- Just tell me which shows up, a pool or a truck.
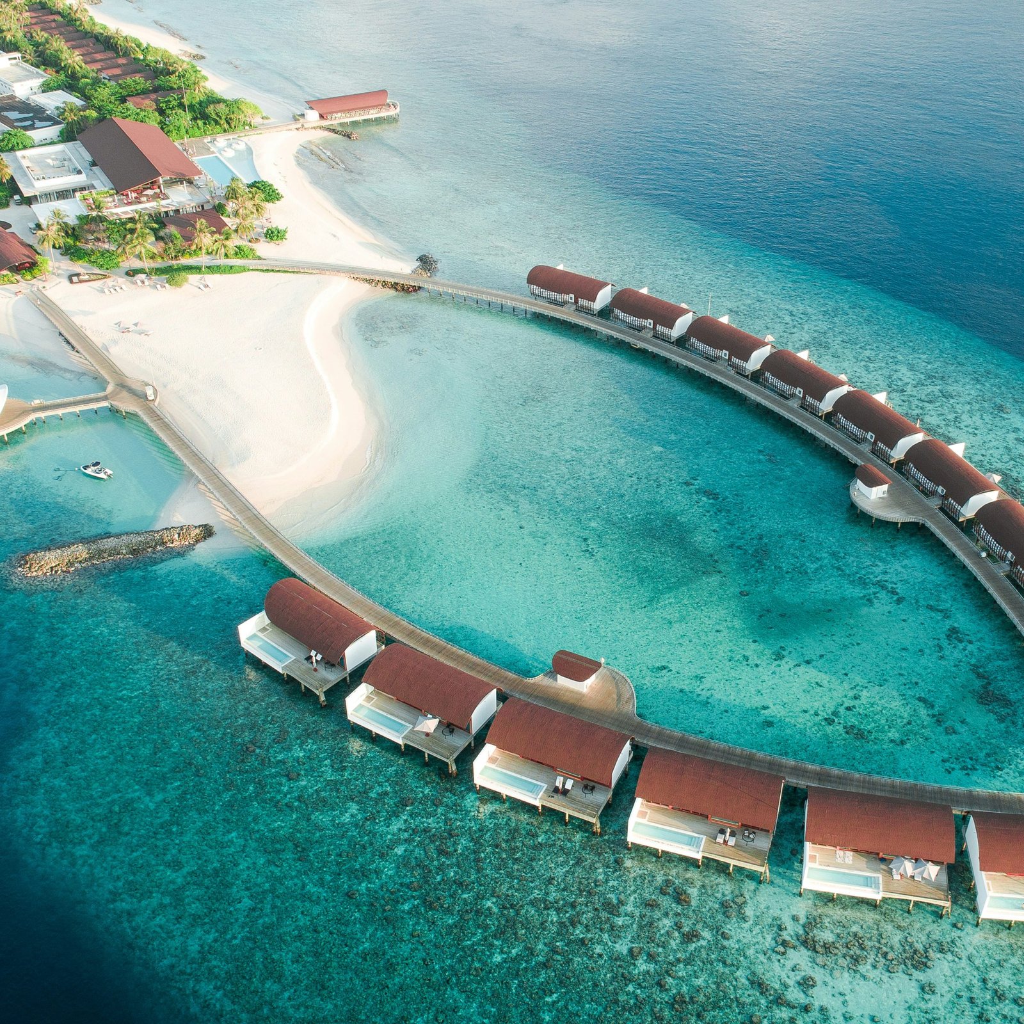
pool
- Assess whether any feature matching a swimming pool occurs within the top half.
Yes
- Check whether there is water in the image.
Yes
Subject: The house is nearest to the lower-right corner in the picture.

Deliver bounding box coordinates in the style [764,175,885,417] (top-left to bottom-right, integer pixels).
[959,808,1024,928]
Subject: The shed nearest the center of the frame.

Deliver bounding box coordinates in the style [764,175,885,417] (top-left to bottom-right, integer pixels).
[548,646,597,693]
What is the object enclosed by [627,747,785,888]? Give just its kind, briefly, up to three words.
house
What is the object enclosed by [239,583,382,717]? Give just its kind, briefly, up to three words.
house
